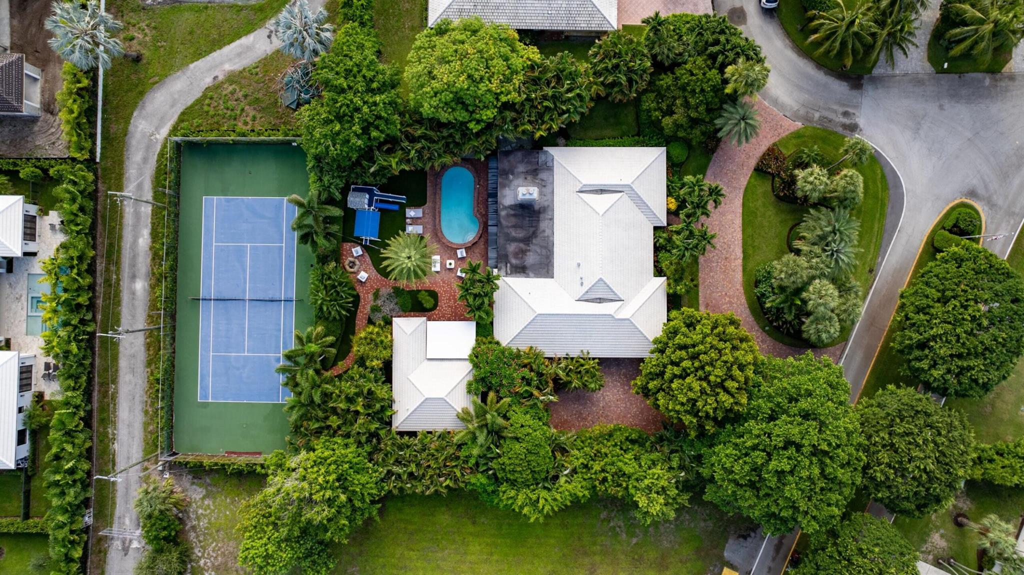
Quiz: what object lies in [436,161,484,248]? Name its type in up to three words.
swimming pool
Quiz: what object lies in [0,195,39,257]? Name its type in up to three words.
house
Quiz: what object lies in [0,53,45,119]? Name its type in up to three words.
house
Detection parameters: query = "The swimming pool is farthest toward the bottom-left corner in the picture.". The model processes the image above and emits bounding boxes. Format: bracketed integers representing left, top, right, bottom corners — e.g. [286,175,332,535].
[26,273,64,336]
